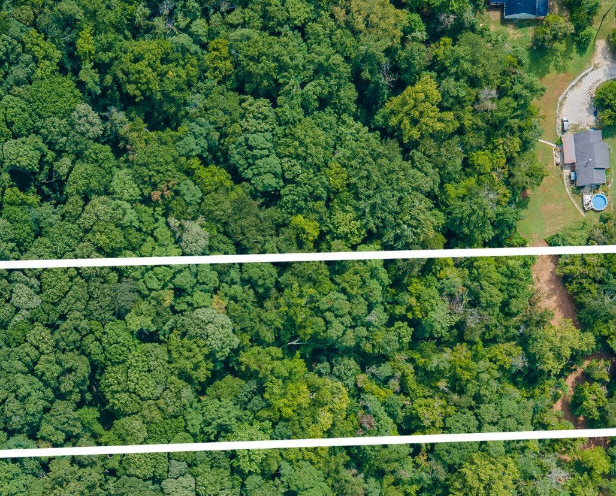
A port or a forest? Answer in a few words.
forest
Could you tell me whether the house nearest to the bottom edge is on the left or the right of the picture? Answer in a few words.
right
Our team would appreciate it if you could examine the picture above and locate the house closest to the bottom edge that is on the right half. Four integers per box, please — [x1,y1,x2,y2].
[562,131,610,187]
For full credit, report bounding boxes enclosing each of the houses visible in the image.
[562,131,610,187]
[497,0,549,20]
